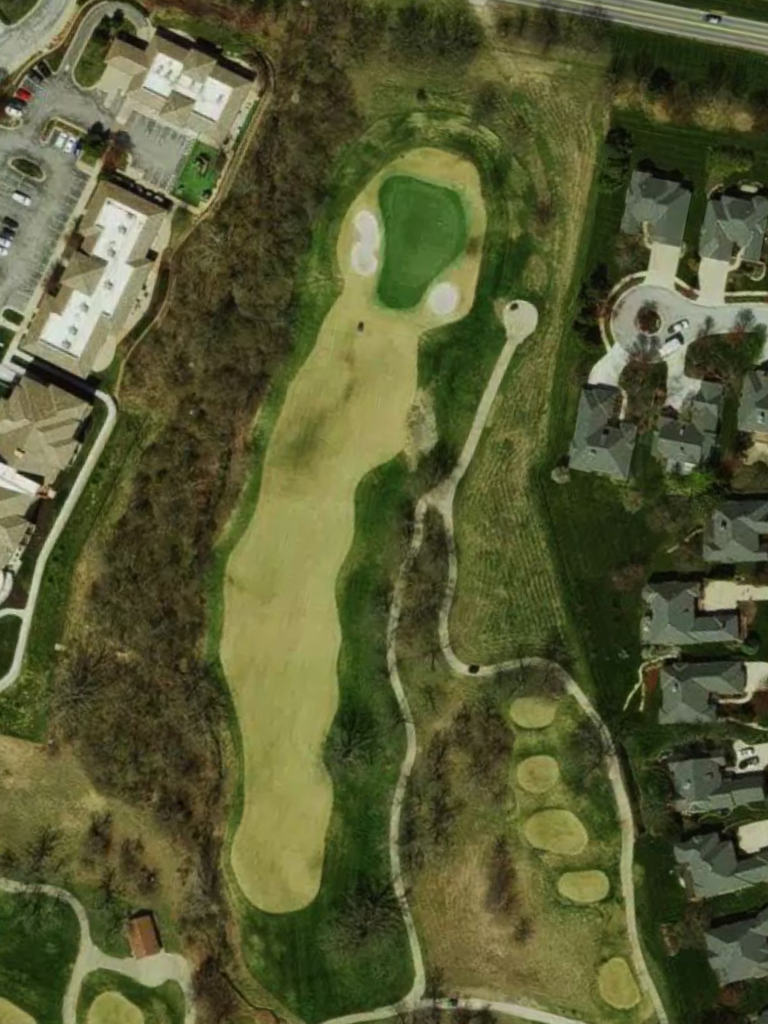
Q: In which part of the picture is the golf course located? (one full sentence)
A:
Look in the center portion of the view to spot the golf course.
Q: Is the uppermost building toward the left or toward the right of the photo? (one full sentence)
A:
It is on the left.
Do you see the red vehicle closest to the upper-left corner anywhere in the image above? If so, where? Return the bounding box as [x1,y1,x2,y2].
[14,87,33,102]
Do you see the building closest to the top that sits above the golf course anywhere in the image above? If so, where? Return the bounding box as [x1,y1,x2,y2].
[106,32,254,150]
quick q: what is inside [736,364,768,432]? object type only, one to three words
house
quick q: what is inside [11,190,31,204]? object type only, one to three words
car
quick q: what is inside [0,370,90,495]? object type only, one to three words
building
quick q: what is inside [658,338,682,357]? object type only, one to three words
vehicle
